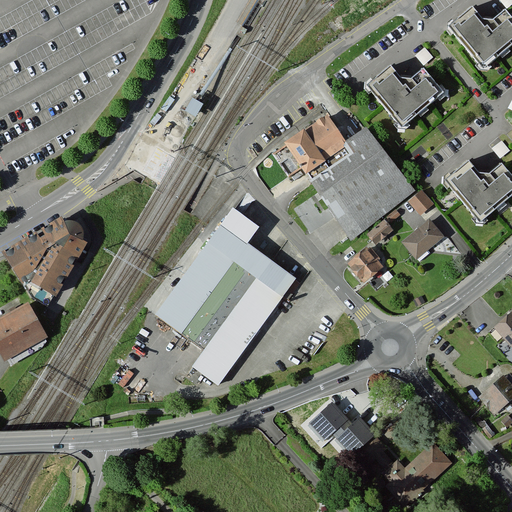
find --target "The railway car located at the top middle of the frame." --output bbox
[242,0,263,28]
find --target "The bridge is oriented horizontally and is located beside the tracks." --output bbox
[0,430,88,453]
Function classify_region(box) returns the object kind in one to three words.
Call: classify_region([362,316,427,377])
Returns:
roundabout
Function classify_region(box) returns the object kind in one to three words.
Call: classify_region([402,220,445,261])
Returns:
house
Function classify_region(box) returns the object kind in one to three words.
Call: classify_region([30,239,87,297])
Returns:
house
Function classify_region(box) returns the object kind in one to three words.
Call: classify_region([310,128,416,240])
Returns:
building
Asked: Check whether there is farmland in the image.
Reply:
No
